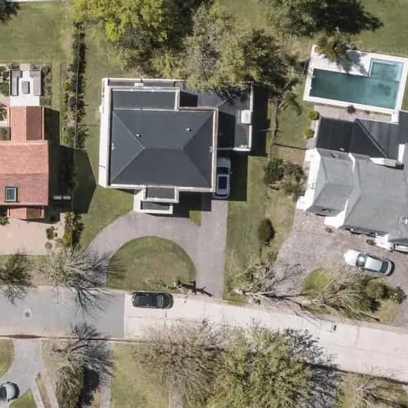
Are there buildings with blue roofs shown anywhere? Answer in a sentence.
No, no building with a blue roof can be seen from above.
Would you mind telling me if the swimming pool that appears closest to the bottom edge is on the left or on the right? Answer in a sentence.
It is on the right.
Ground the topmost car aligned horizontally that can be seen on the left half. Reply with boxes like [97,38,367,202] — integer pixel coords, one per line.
[131,291,172,310]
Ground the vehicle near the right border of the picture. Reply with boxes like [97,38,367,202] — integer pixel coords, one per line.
[343,248,393,275]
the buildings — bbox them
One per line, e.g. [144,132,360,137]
[98,79,253,213]
[0,106,49,218]
[287,110,408,253]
